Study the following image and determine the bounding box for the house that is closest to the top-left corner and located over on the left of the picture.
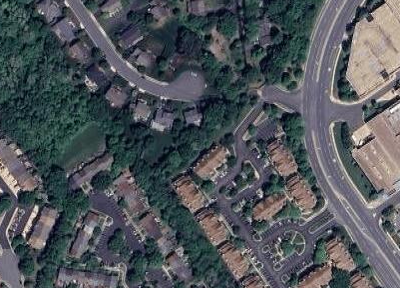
[37,0,63,22]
